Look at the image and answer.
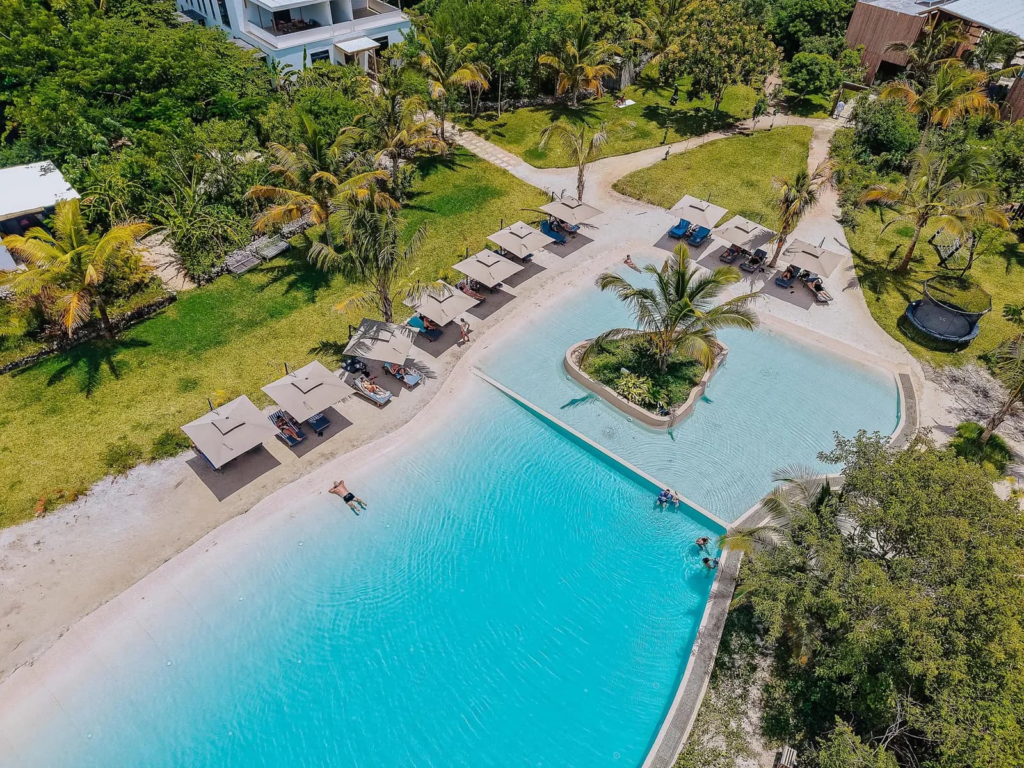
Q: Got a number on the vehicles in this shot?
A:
0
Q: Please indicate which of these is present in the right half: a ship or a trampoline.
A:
trampoline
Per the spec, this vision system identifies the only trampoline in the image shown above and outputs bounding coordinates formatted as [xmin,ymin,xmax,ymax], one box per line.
[902,277,990,347]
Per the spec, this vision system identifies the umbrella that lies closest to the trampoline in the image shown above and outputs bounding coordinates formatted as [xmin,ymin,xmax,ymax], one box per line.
[777,234,844,280]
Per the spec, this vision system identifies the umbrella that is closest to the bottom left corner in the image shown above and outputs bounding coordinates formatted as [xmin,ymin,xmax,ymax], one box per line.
[181,393,282,467]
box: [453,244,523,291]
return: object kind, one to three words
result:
umbrella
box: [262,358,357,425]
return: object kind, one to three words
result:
umbrella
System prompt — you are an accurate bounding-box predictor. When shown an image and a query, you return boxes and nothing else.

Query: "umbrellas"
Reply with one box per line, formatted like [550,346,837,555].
[777,234,844,280]
[342,318,419,375]
[710,211,777,256]
[542,189,602,233]
[487,215,556,257]
[181,393,282,467]
[667,189,730,232]
[453,244,523,291]
[406,276,479,327]
[262,358,357,425]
